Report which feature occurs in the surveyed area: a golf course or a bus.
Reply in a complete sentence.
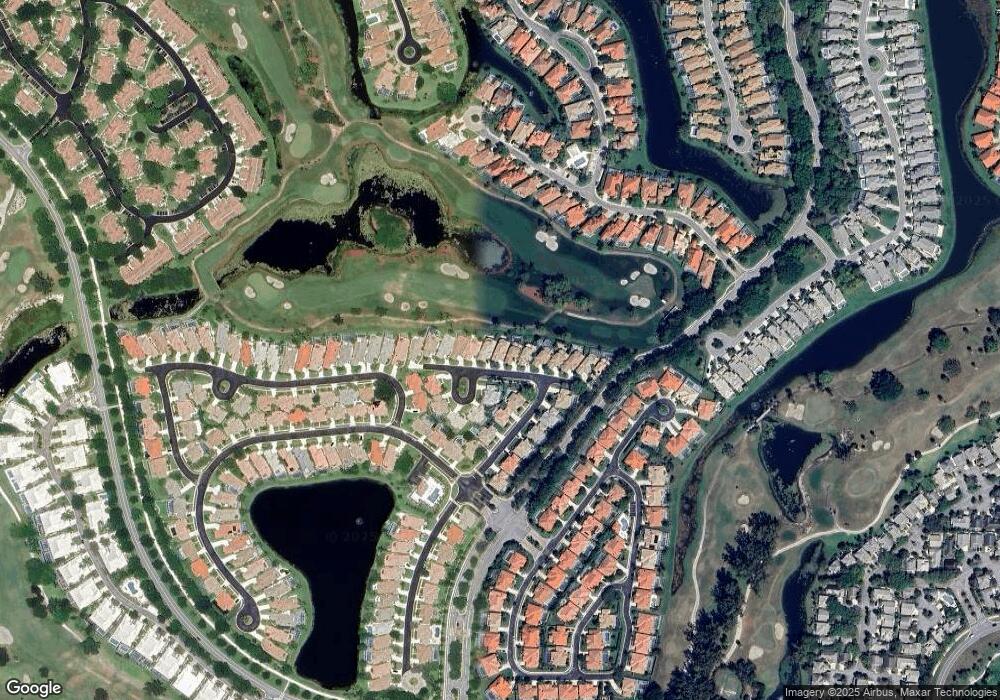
Looking from above, you can make out a golf course.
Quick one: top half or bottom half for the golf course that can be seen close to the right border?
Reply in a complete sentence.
The golf course that can be seen close to the right border sits in the bottom half of the picture.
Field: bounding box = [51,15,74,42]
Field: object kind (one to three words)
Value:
building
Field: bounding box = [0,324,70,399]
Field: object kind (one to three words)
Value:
pond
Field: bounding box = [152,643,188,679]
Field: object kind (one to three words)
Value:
house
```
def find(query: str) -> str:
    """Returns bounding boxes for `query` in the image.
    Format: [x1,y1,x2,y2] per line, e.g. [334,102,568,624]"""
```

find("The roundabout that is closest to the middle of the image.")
[451,372,479,404]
